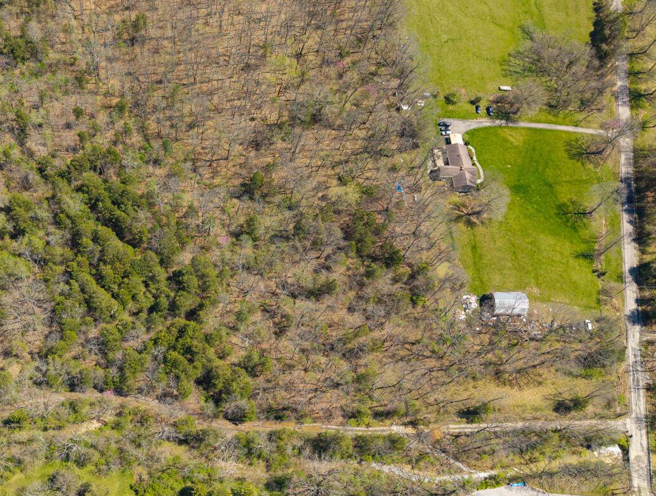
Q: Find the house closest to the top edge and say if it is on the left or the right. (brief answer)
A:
right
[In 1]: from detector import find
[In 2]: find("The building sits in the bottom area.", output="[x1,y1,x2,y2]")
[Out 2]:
[490,294,530,319]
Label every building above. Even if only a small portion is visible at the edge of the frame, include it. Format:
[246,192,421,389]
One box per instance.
[439,133,479,191]
[490,294,530,319]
